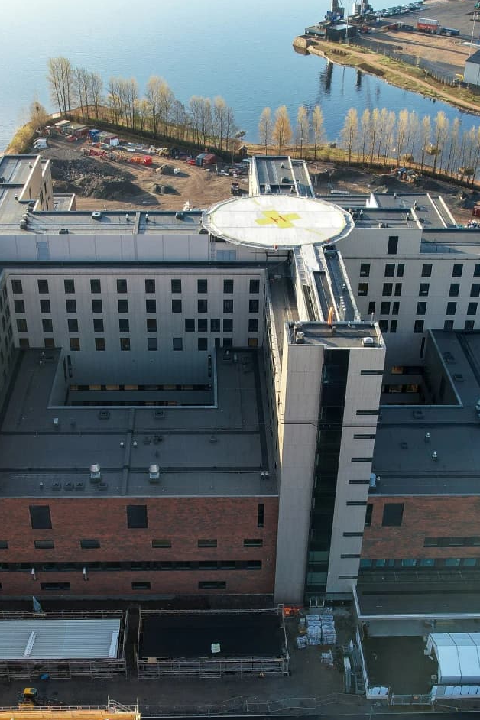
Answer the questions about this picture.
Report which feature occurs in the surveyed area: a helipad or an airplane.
helipad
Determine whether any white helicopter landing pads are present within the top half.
Yes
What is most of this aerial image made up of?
buildings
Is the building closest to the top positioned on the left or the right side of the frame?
right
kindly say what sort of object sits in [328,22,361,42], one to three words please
building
